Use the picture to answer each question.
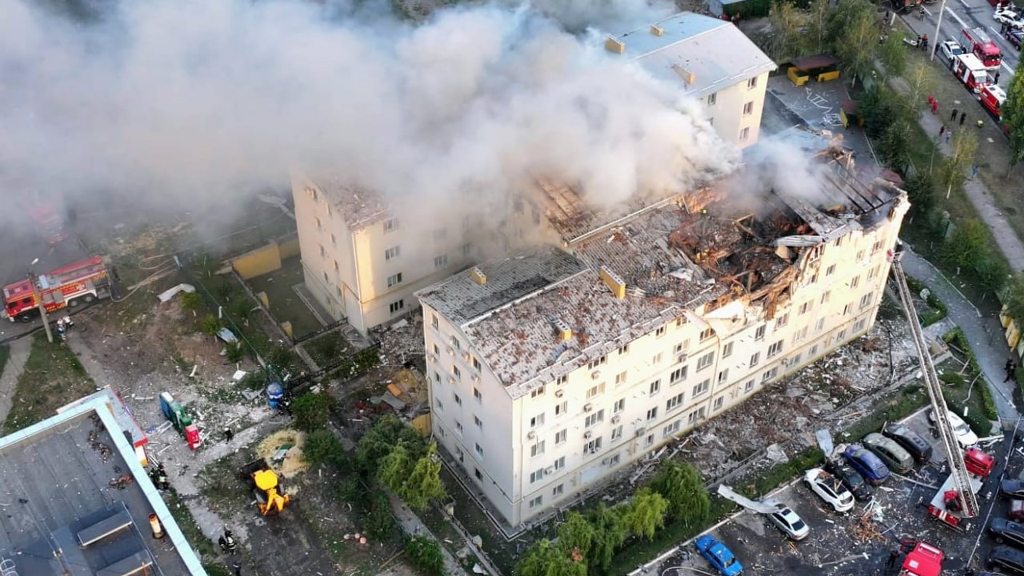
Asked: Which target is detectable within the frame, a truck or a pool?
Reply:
truck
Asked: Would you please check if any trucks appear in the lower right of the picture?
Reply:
Yes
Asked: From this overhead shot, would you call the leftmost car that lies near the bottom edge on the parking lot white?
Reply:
No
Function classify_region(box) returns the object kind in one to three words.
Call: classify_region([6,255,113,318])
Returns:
truck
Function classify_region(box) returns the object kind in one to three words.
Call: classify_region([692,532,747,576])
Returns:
car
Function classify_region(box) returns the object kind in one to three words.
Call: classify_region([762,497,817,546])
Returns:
car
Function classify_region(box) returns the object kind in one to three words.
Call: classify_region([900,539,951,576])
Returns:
truck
